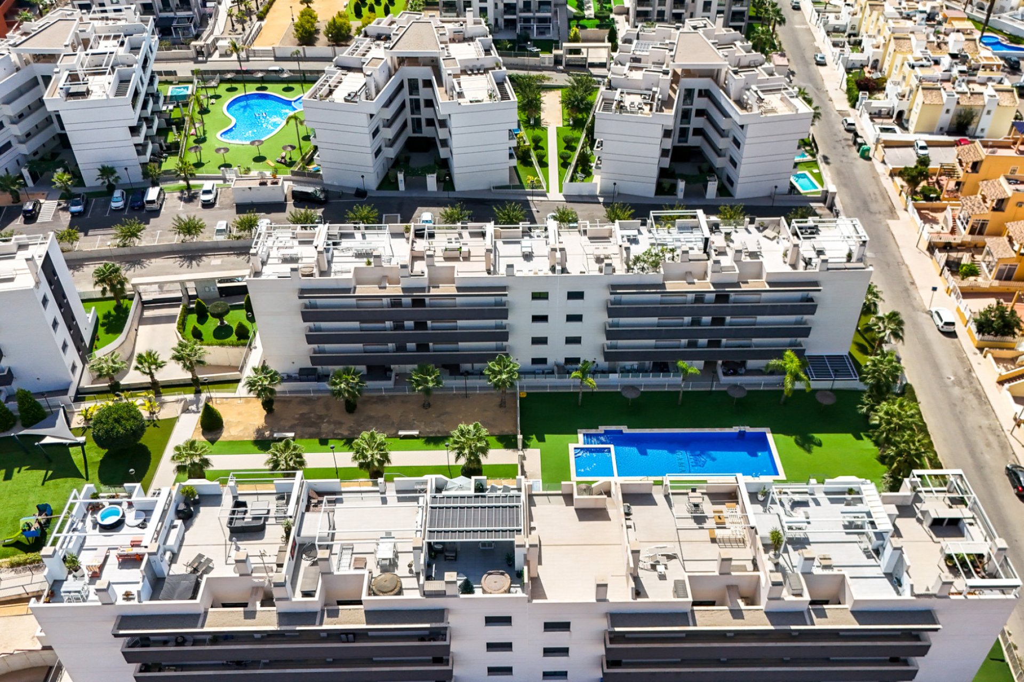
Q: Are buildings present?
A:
Yes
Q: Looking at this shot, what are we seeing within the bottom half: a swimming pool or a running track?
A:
swimming pool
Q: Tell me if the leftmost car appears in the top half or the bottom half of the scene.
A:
top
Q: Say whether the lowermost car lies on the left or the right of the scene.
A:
right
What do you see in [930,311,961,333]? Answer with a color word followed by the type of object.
white car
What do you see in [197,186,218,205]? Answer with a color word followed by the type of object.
white vehicle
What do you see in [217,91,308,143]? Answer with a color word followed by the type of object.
blue swimming pool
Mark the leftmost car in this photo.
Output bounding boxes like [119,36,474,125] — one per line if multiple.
[16,199,43,219]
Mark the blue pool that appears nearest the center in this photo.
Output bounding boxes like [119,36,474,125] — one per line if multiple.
[569,424,787,481]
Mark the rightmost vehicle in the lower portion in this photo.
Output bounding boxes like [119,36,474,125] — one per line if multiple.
[1001,465,1024,500]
